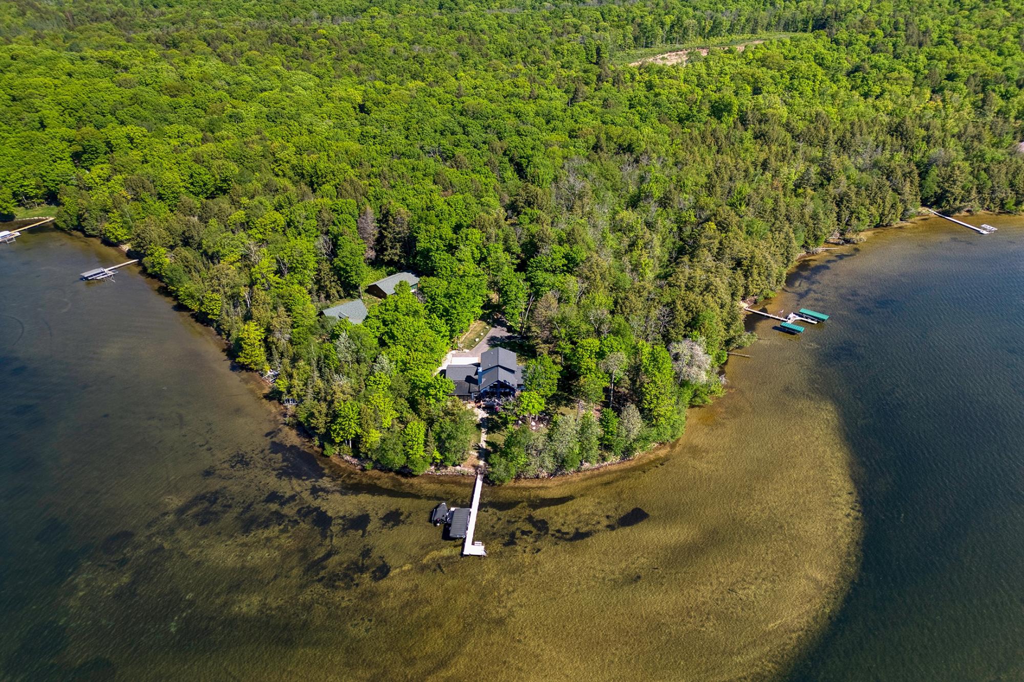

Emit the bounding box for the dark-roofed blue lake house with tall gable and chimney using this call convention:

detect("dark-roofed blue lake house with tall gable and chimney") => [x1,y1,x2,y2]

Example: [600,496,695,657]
[446,346,530,403]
